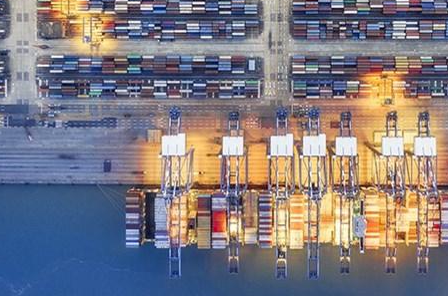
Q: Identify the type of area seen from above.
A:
port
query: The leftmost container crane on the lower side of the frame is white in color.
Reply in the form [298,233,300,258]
[162,105,196,278]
